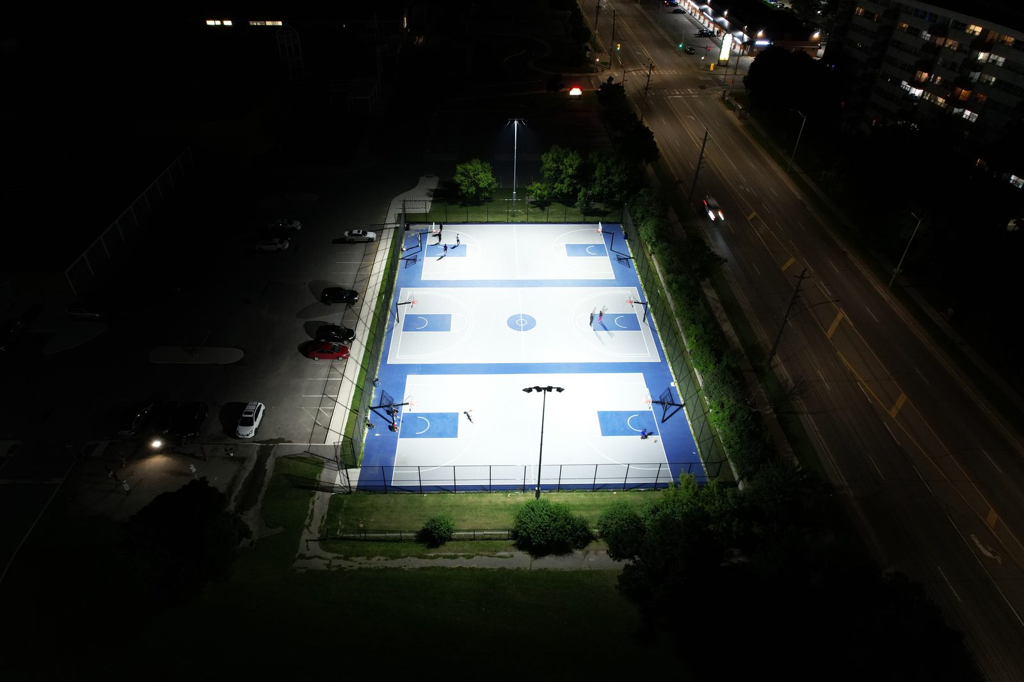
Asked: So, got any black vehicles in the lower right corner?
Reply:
No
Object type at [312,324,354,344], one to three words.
car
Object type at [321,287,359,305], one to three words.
car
